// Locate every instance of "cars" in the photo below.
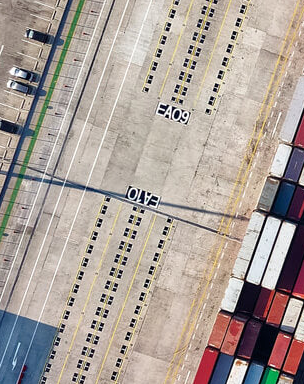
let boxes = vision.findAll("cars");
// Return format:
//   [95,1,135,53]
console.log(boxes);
[10,66,34,82]
[25,28,50,44]
[0,119,18,134]
[7,79,31,95]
